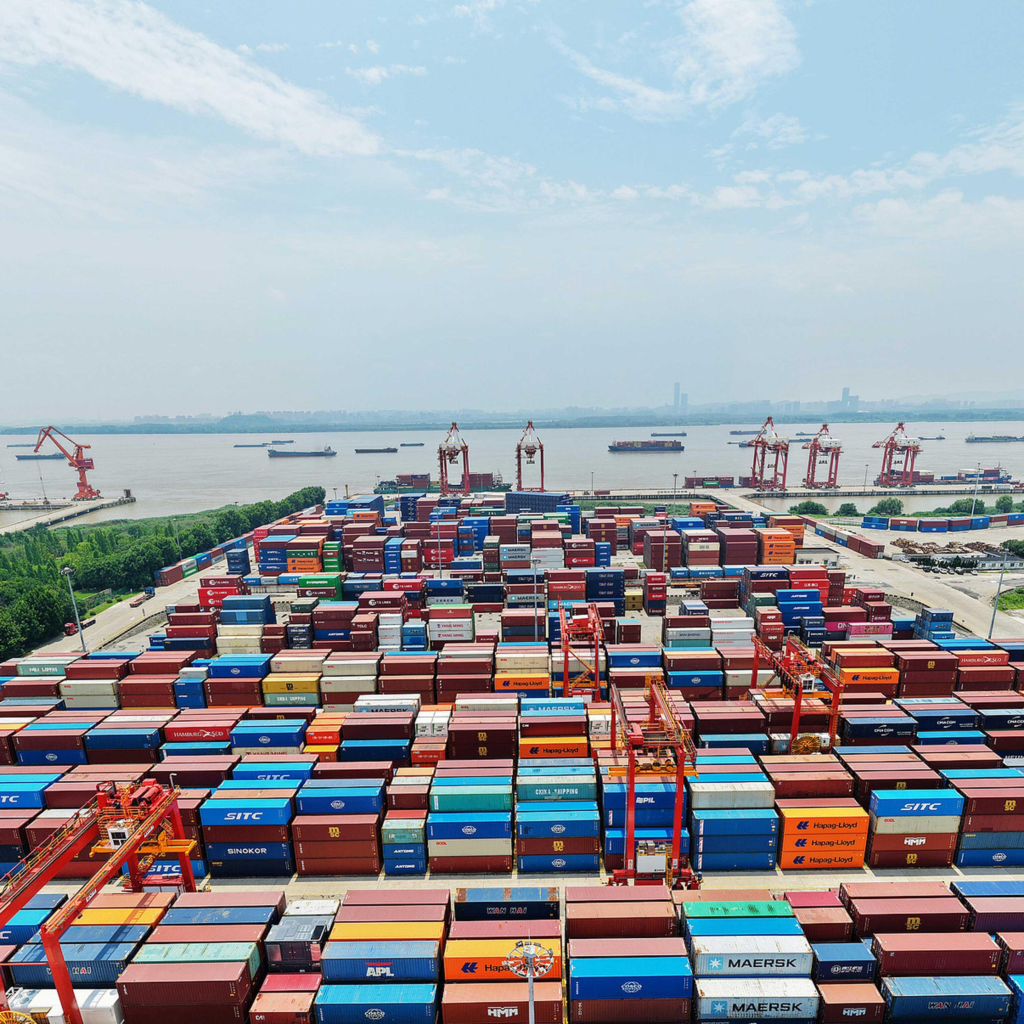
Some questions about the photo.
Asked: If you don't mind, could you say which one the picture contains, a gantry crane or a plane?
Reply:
gantry crane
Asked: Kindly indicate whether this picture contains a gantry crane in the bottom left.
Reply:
Yes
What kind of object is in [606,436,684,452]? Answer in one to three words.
ship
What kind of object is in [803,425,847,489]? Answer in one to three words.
container crane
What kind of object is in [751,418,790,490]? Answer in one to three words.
container crane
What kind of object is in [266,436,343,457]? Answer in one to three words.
ship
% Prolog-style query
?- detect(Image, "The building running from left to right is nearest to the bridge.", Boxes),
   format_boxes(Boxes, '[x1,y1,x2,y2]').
[788,552,841,568]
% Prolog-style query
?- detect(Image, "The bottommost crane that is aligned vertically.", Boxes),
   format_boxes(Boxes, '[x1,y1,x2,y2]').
[597,672,704,887]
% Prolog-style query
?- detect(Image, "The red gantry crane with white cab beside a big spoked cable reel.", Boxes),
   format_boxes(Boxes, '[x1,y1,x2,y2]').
[750,633,848,755]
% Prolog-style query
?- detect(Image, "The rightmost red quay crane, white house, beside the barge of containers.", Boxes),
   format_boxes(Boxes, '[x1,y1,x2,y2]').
[874,423,926,488]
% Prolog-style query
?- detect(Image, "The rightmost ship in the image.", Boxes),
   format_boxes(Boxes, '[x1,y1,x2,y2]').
[963,429,1023,442]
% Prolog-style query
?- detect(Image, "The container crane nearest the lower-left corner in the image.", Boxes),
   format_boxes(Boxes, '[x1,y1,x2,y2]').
[0,768,209,1024]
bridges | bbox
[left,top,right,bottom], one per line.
[710,496,780,514]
